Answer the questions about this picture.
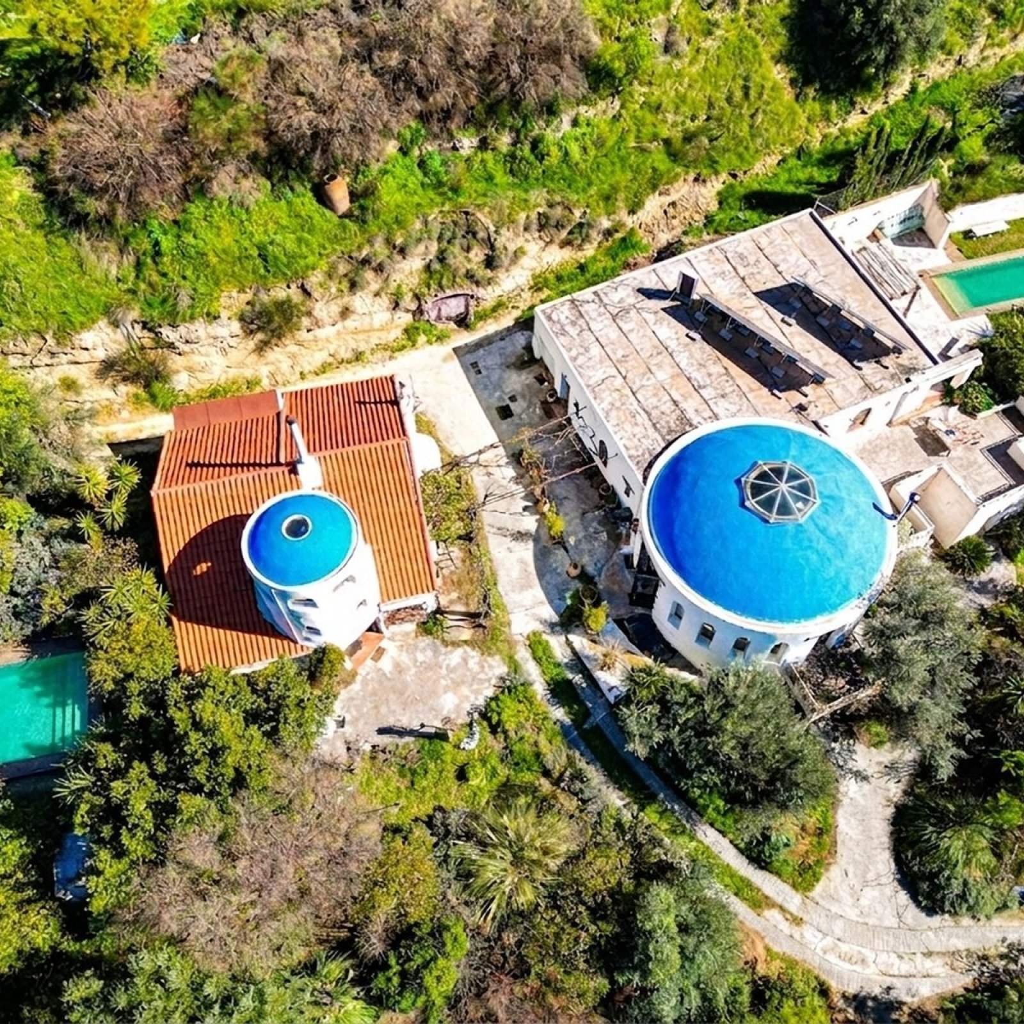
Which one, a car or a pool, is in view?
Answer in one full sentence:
It is a pool that can be seen here.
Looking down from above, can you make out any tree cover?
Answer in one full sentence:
Yes, some tree cover is visible.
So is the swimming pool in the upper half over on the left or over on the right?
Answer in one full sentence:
The swimming pool in the upper half is on the right side of the image.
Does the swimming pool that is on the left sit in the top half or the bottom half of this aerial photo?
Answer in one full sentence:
Seen from above, the swimming pool that is on the left lies in the bottom half of the view.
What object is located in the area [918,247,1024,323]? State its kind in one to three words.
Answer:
swimming pool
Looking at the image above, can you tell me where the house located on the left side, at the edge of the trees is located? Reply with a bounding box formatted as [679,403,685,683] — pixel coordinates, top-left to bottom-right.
[149,364,446,699]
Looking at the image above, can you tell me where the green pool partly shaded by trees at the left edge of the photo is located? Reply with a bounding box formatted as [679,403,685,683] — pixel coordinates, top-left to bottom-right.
[0,643,100,772]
